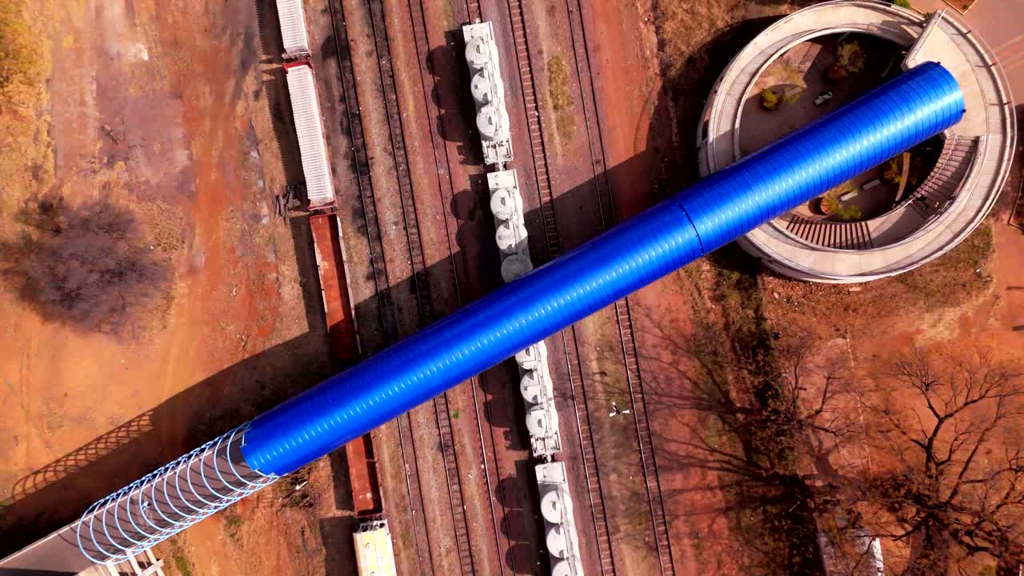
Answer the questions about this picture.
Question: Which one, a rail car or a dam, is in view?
rail car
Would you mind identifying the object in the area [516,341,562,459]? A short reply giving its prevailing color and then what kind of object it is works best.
white rail car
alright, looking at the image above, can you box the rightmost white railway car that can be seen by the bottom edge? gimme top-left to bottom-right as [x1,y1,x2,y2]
[536,454,584,576]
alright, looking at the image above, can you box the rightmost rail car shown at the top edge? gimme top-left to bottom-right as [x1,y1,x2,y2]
[464,19,514,167]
